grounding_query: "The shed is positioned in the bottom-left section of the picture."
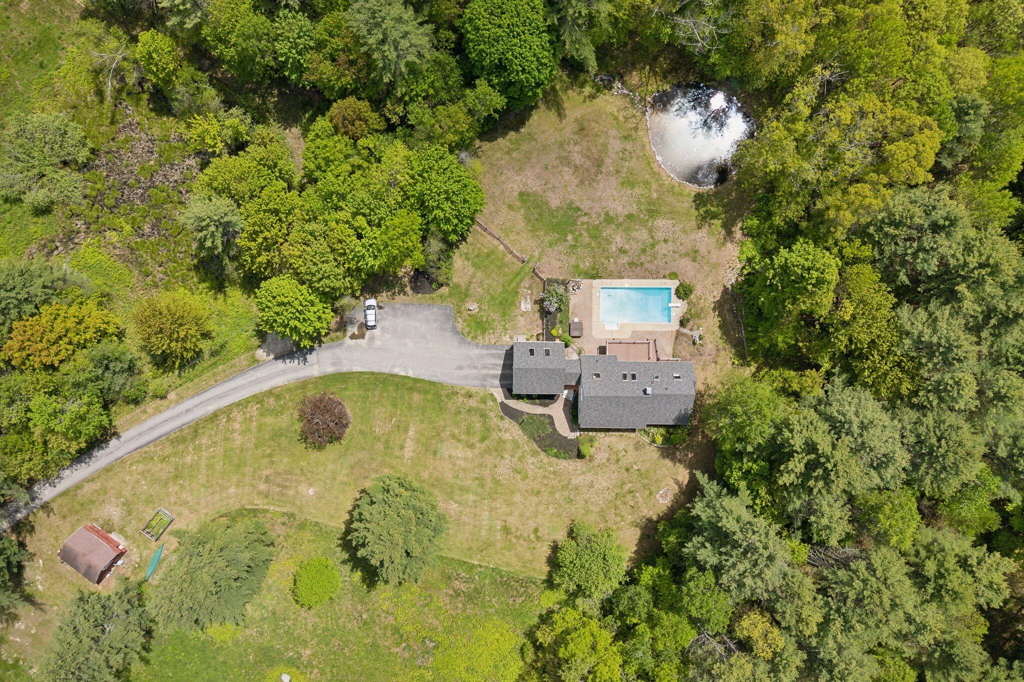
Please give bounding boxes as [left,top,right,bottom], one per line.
[58,521,129,590]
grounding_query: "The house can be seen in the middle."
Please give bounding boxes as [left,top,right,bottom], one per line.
[512,341,694,428]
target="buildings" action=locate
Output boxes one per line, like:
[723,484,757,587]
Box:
[512,341,694,428]
[58,521,129,590]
